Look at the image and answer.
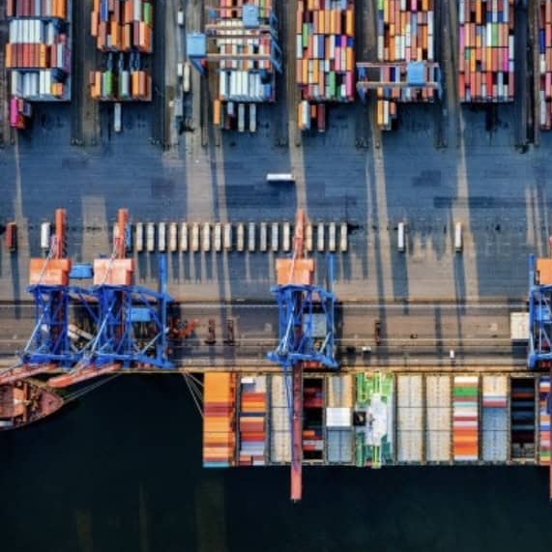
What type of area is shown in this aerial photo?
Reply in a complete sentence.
The area seen from above is a port.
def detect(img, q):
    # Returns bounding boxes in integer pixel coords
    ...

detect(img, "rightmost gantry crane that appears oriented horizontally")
[357,63,442,96]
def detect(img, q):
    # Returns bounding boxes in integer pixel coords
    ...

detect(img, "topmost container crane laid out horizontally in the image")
[206,9,285,40]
